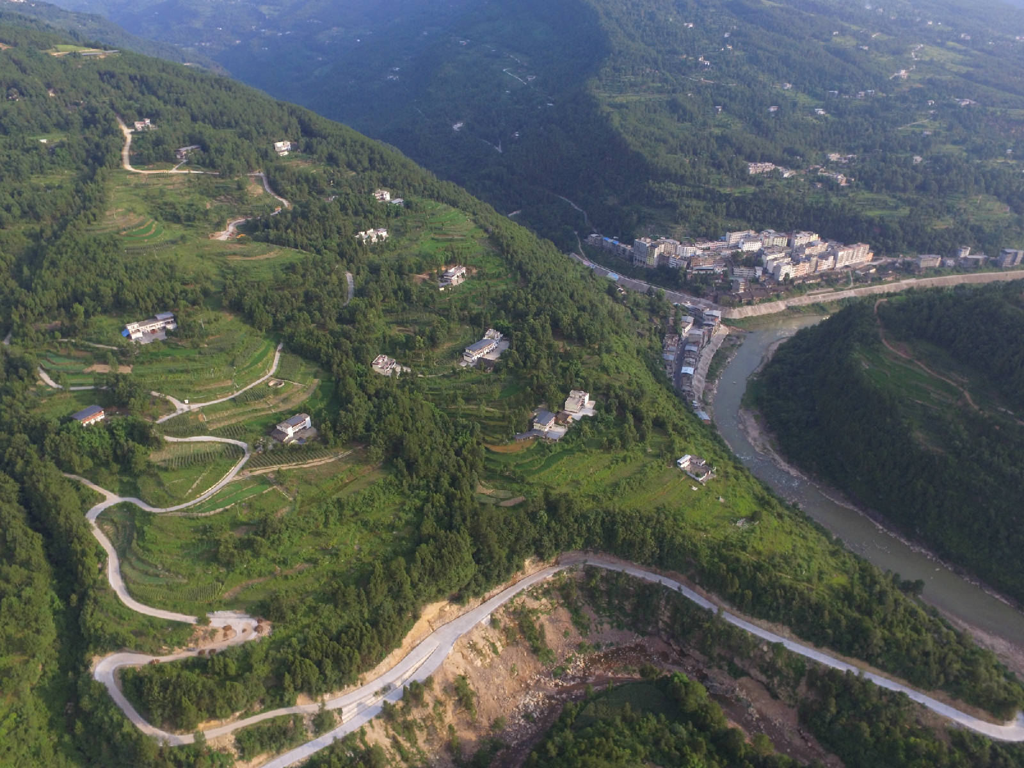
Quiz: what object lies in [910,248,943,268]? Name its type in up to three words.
building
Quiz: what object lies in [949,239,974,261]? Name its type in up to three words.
building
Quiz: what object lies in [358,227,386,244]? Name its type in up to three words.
house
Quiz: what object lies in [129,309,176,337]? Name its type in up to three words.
house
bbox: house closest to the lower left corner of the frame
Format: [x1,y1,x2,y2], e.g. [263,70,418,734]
[75,403,102,425]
